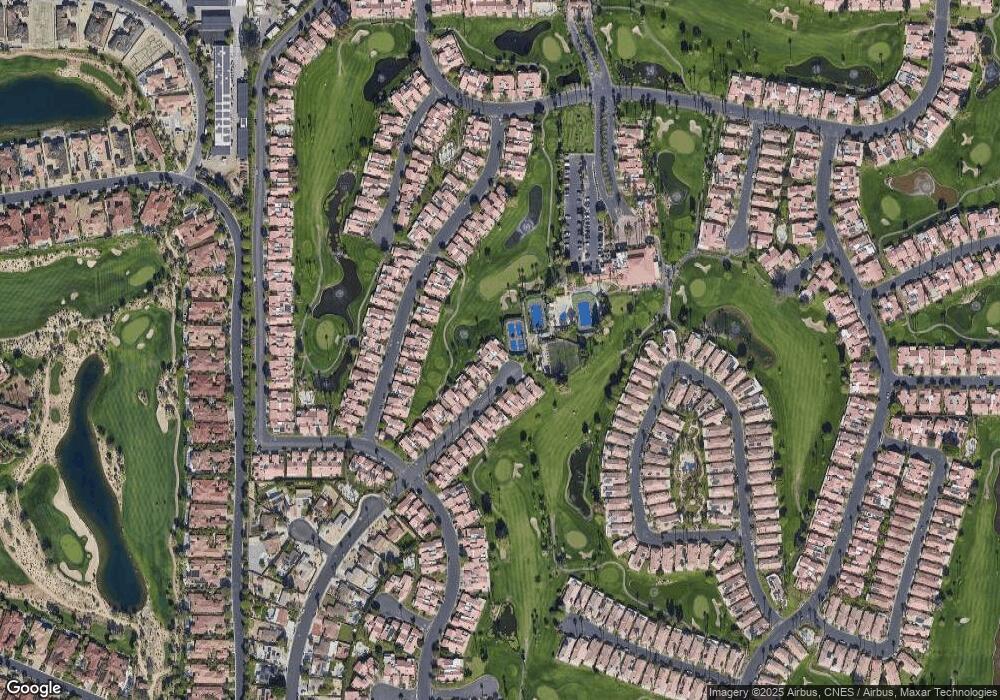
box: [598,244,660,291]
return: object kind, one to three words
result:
building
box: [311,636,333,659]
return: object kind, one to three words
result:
house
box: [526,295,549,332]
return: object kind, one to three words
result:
tennis court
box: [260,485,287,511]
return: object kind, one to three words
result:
house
